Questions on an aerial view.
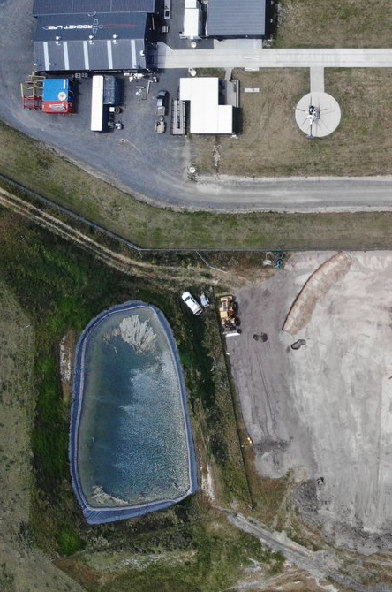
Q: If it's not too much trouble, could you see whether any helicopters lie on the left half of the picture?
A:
No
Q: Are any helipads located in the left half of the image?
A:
No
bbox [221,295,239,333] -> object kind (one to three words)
work vehicle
